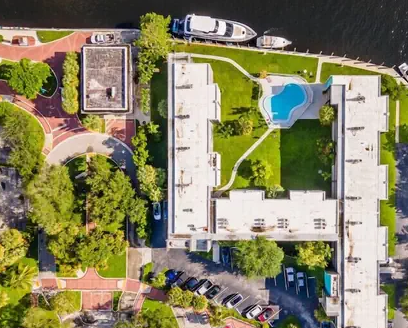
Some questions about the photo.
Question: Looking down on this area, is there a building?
Yes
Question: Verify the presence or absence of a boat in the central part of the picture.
No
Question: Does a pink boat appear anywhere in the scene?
No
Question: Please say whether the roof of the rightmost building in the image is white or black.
white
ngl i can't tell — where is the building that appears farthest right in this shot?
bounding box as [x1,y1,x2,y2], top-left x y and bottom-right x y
[321,75,387,328]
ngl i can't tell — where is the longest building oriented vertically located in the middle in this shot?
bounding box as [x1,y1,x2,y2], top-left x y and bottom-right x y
[167,53,219,251]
